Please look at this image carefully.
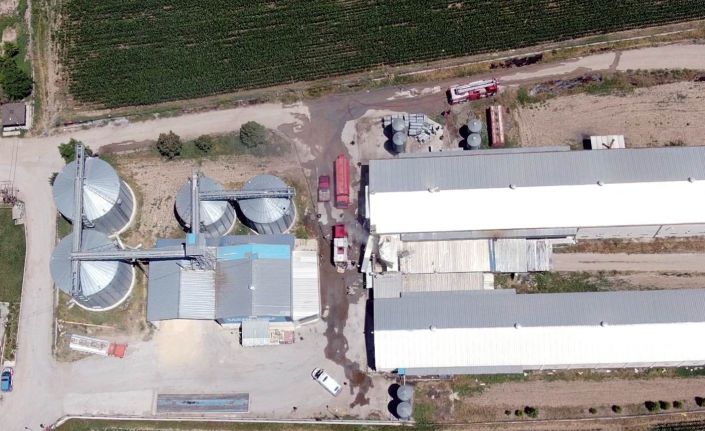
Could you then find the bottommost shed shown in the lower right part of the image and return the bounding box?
[372,289,705,377]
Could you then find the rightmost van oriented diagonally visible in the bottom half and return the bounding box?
[312,366,342,397]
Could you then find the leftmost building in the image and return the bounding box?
[1,101,34,136]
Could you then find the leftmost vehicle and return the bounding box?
[1,368,15,391]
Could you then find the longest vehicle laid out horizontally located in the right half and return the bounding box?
[446,83,499,106]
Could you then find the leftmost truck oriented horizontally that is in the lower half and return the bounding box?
[67,334,131,362]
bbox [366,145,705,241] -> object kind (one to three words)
shed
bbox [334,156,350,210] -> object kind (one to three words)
vehicle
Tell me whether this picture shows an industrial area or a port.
industrial area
